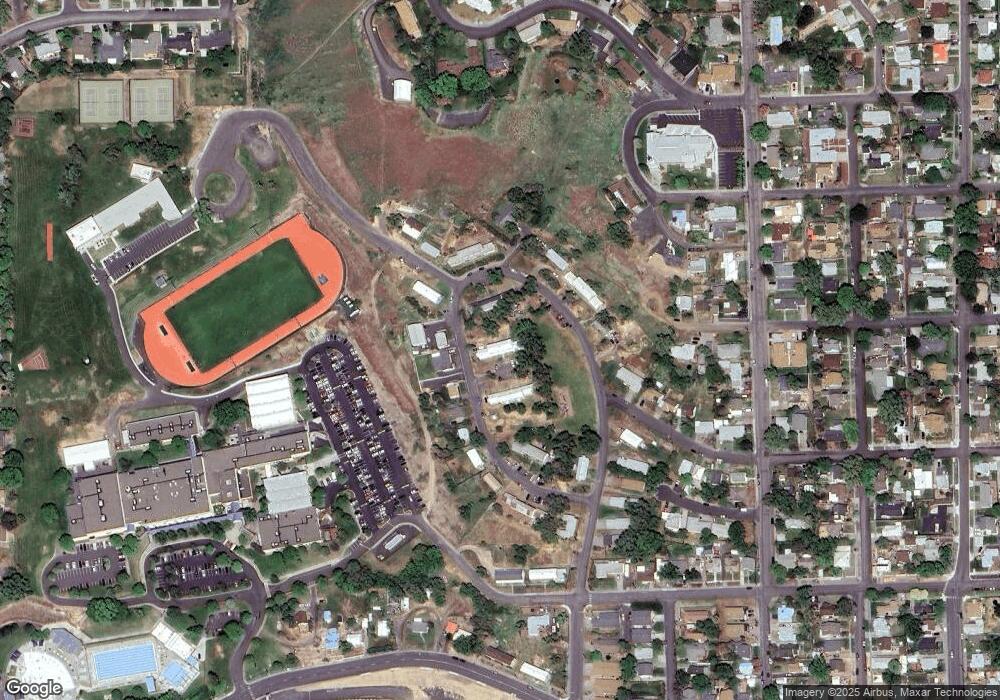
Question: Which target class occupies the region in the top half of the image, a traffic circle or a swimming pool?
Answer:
traffic circle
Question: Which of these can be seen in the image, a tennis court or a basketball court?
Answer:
tennis court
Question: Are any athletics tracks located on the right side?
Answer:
No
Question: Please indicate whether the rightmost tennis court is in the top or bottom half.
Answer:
top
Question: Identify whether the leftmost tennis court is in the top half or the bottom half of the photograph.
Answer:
top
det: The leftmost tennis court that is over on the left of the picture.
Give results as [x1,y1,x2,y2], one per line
[79,78,123,123]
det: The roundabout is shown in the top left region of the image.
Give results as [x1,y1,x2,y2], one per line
[198,158,255,219]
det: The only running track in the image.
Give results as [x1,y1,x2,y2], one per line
[140,213,345,387]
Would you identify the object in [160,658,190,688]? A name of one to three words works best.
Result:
swimming pool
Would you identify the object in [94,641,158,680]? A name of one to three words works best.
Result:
swimming pool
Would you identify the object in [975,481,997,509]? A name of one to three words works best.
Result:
house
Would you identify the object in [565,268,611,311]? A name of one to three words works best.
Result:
building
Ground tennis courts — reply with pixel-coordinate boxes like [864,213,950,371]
[79,78,123,123]
[130,78,173,122]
